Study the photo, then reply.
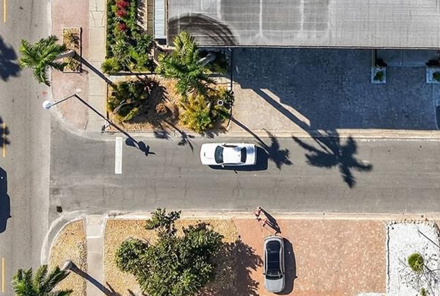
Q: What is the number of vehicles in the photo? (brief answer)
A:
2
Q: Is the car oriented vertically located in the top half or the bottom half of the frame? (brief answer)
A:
bottom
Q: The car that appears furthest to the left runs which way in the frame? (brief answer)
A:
from left to right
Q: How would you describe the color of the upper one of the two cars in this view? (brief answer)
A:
white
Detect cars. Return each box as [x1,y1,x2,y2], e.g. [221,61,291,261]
[261,235,289,294]
[200,140,258,169]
